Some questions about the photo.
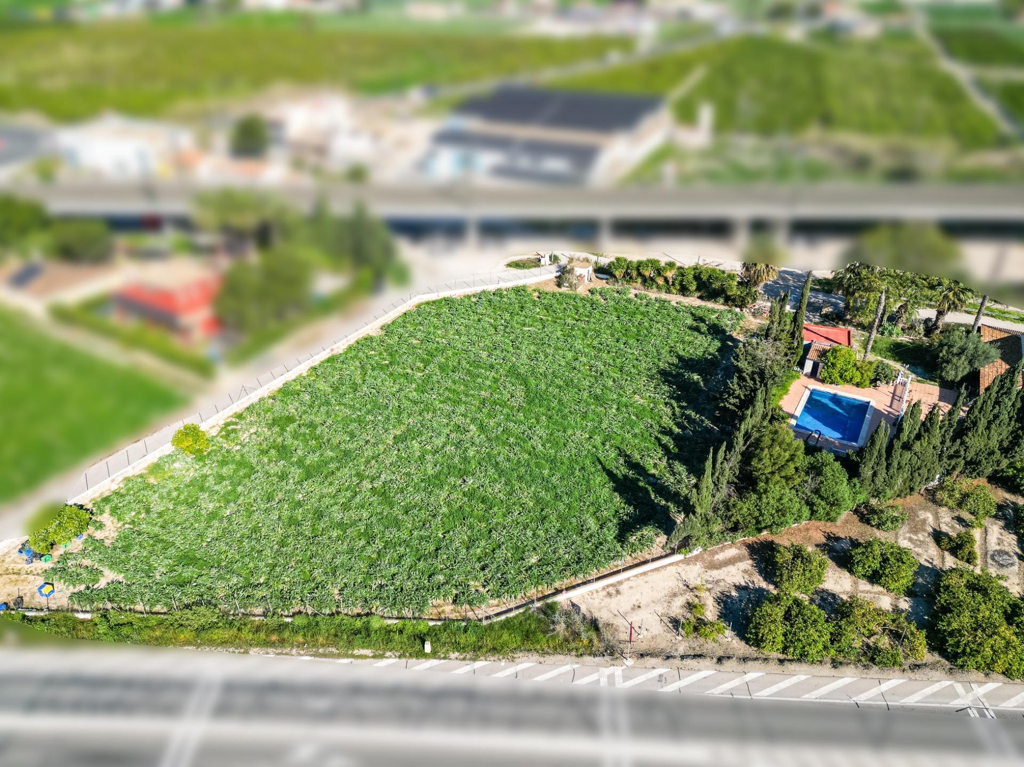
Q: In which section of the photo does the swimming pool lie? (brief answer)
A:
right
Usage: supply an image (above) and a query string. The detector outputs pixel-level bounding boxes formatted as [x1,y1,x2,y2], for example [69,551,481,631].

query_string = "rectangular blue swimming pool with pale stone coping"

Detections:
[787,386,878,449]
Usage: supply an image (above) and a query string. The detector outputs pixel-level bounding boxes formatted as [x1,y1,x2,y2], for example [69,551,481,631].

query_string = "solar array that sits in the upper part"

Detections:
[5,263,43,287]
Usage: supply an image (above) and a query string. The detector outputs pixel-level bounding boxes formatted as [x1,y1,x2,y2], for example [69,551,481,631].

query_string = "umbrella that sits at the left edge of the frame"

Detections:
[29,582,52,608]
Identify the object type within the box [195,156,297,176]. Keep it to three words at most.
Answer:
house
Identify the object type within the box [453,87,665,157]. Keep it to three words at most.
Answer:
building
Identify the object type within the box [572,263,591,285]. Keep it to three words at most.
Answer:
shed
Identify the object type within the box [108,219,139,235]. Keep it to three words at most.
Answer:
vehicle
